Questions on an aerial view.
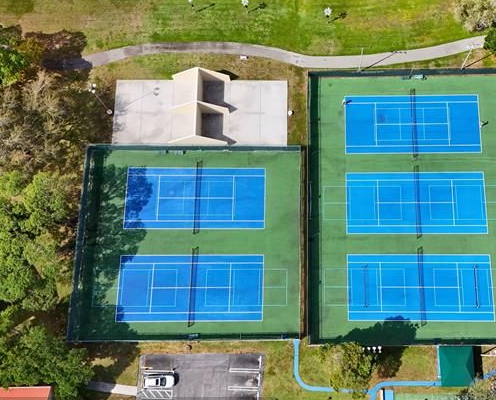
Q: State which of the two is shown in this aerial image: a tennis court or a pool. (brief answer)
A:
tennis court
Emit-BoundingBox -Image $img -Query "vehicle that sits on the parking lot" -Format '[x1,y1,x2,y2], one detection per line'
[143,374,175,389]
